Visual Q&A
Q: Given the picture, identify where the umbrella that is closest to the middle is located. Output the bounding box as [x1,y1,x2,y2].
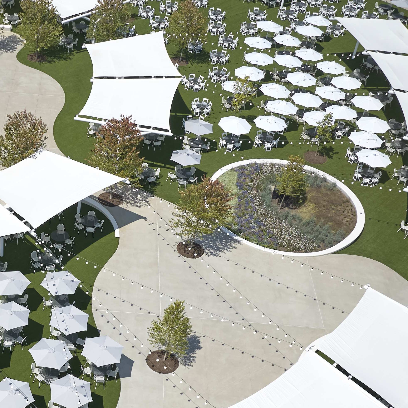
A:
[169,150,201,184]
